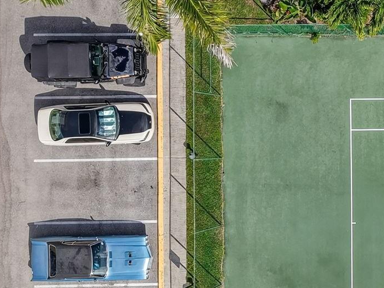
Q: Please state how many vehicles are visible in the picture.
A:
3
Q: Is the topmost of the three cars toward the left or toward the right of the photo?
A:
left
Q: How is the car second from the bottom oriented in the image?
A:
from side to side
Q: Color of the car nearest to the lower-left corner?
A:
blue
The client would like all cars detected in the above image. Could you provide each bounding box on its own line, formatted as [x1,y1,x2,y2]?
[30,233,158,286]
[35,95,156,150]
[22,38,146,86]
